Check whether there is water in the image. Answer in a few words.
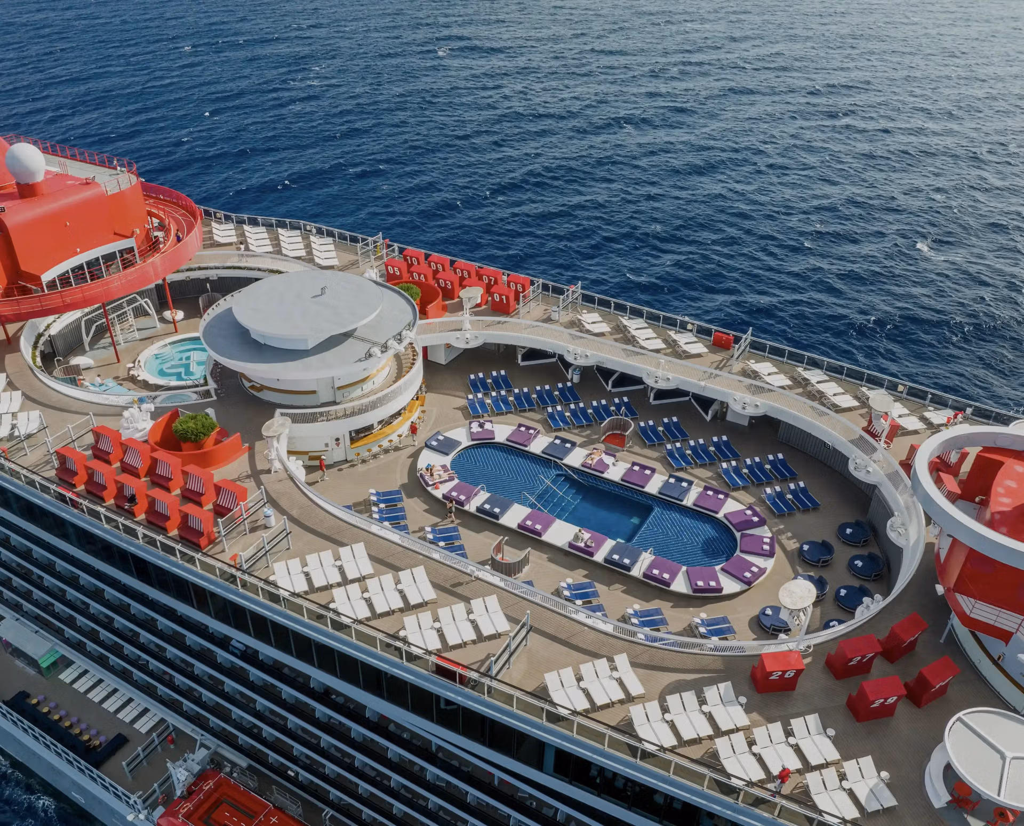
Yes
